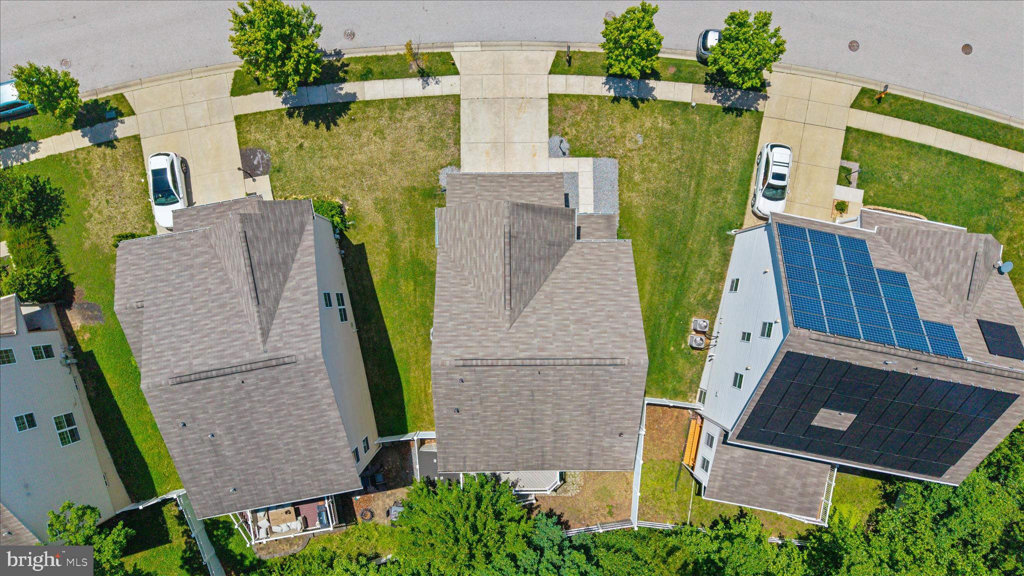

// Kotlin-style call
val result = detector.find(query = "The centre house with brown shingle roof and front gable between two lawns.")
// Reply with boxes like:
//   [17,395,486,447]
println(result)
[431,171,648,474]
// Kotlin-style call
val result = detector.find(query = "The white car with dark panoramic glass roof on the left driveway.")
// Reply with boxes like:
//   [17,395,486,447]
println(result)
[150,152,192,231]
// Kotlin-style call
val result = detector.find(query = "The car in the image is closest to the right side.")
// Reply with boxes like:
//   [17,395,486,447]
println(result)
[750,143,796,215]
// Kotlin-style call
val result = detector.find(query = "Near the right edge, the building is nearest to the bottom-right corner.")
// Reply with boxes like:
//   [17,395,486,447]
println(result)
[690,205,1024,522]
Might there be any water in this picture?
No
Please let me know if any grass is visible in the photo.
Yes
